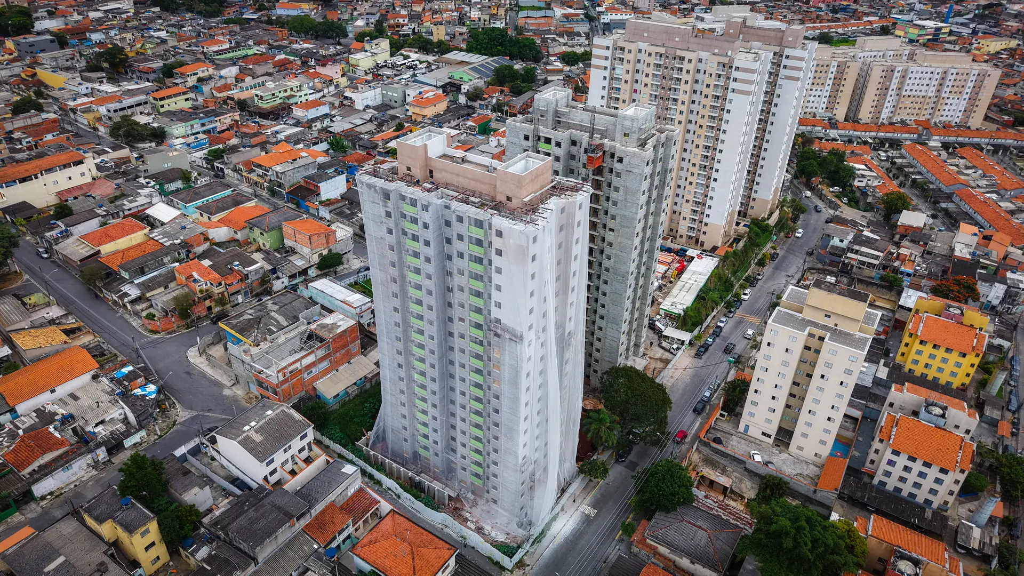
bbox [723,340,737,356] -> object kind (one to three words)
car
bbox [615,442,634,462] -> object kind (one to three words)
car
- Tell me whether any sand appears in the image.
No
